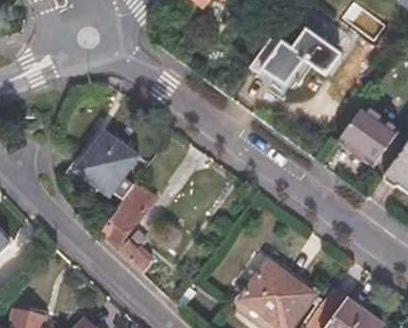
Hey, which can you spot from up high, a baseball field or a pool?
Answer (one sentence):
The image shows a pool.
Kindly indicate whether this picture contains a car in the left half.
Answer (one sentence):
No, I can find no car in the left half.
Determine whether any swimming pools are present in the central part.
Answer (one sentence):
No, no swimming pool can be made out in the central part.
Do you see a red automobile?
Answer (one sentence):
No, there isn't any red automobile down there.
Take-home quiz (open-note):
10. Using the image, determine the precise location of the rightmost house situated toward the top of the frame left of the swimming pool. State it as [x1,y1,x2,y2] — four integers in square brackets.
[248,28,342,102]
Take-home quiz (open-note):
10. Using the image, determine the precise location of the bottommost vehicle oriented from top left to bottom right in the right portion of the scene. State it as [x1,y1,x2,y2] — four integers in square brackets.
[267,148,290,168]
